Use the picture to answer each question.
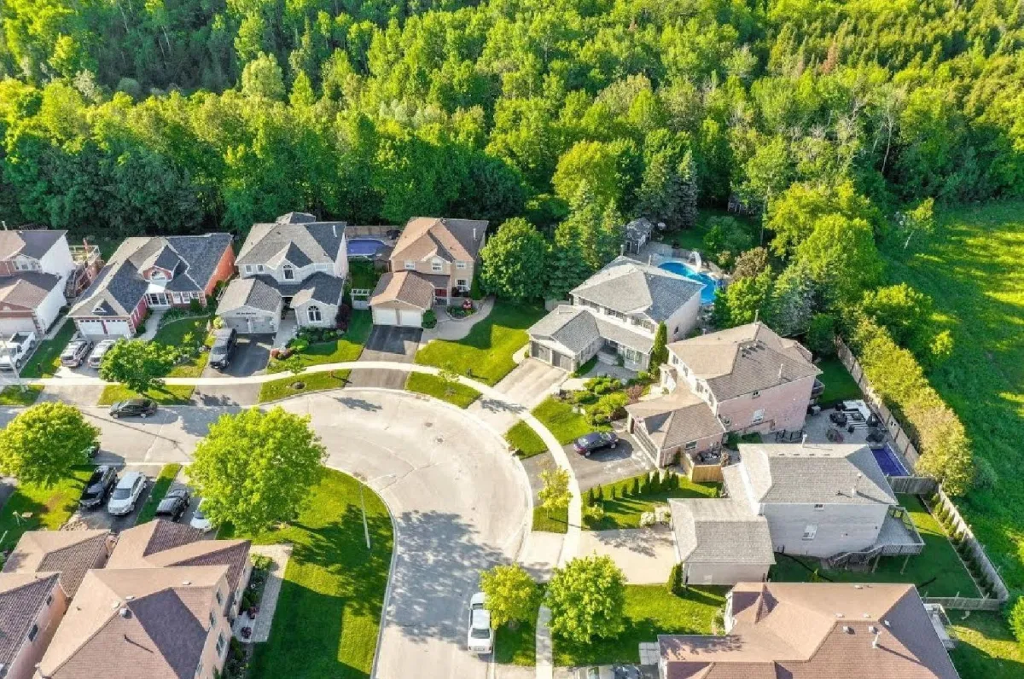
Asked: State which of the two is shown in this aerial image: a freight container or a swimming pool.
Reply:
swimming pool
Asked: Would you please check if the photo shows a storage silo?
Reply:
No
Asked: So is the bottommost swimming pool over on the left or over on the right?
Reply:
right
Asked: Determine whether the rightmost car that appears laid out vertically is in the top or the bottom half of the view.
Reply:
bottom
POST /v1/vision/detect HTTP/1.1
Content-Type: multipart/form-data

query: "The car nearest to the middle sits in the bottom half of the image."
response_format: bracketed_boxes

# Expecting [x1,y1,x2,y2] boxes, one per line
[574,425,624,453]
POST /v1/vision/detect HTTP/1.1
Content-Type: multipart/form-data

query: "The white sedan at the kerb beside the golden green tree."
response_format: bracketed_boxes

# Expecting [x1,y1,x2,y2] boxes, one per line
[466,594,493,650]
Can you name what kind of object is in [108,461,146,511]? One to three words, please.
car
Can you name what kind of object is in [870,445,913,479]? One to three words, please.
swimming pool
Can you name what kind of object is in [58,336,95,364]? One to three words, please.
car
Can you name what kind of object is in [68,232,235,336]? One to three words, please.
house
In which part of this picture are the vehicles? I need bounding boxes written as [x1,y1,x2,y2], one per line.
[156,466,199,514]
[108,461,146,511]
[107,397,159,418]
[85,336,119,364]
[574,425,624,453]
[579,665,647,679]
[78,461,115,507]
[466,594,493,650]
[209,335,236,366]
[58,336,95,364]
[190,481,223,525]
